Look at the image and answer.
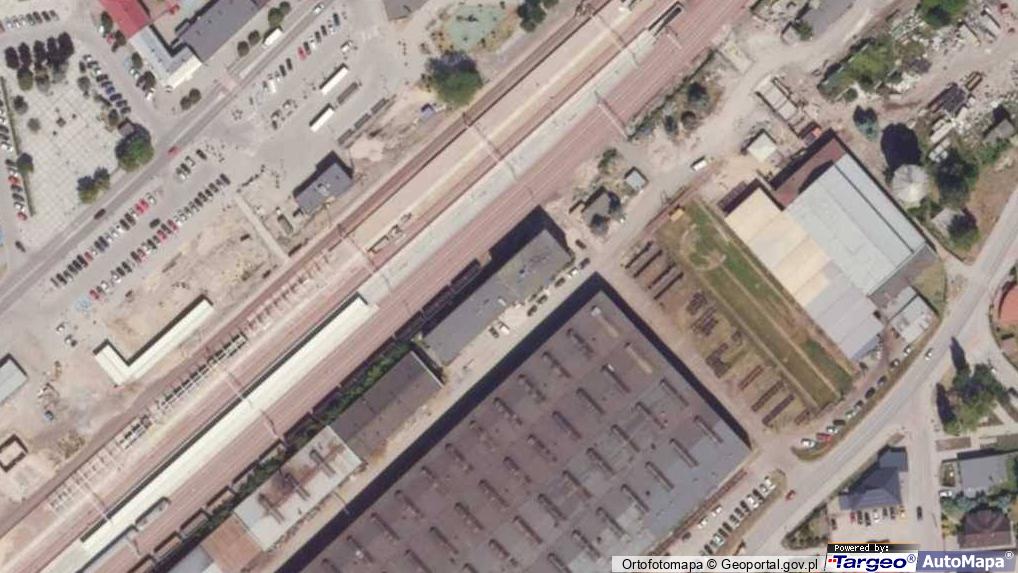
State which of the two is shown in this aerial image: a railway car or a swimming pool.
railway car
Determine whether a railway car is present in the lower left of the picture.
Yes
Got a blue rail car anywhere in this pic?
No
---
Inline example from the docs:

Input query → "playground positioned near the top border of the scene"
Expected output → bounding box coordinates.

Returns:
[443,5,505,49]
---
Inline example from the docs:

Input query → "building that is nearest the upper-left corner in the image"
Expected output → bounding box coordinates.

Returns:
[98,0,153,39]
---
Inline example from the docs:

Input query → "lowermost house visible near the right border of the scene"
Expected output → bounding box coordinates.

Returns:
[960,506,1013,548]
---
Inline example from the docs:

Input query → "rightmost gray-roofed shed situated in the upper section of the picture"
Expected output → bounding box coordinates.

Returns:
[985,119,1018,153]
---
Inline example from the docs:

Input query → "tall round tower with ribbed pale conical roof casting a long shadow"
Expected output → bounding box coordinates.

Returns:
[891,167,929,203]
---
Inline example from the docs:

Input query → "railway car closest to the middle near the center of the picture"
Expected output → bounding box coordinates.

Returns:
[449,263,479,291]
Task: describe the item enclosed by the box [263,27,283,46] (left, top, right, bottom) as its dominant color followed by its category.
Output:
white vehicle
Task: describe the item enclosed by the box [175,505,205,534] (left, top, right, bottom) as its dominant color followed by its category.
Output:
gray rail car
